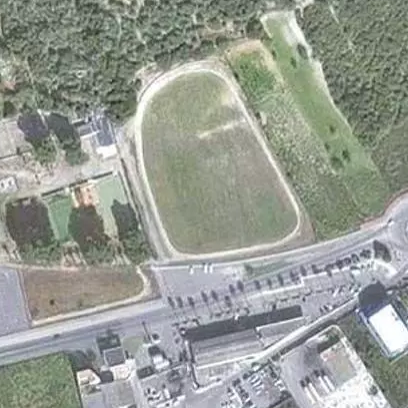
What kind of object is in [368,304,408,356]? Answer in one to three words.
building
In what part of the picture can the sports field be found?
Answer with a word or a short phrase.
center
